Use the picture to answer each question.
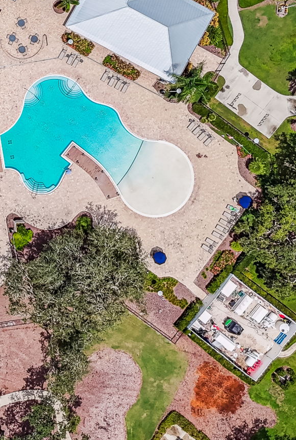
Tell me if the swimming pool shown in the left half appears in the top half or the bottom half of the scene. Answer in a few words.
top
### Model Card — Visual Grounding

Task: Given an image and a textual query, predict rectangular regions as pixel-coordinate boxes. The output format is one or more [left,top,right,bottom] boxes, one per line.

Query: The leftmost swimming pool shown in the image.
[0,72,196,217]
